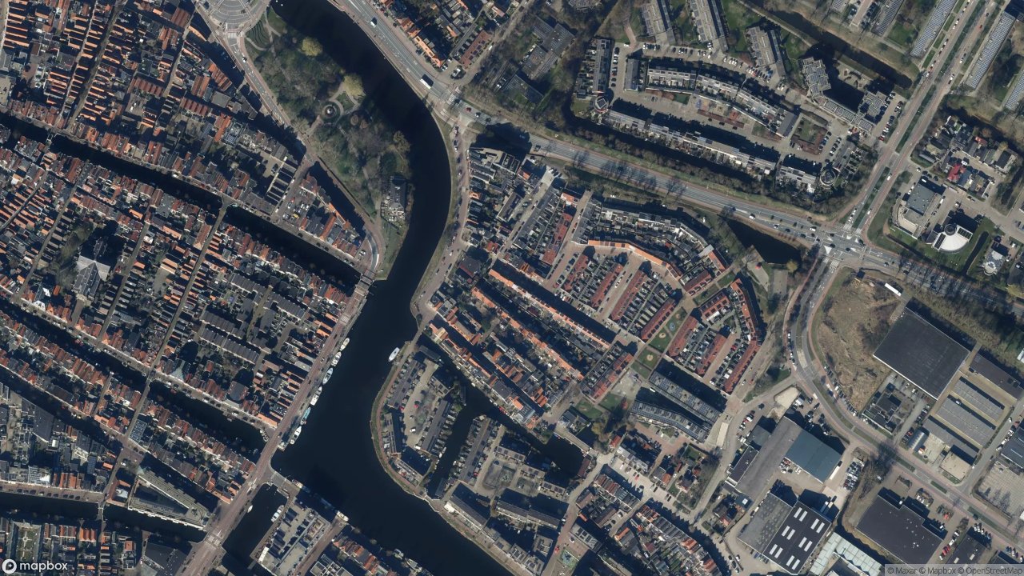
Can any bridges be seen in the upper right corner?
No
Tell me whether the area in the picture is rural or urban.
urban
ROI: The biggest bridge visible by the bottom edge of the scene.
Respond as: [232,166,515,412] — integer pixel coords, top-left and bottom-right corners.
[200,513,235,554]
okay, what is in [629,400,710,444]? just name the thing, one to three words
building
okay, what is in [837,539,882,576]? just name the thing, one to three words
greenhouse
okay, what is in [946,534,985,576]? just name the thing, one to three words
building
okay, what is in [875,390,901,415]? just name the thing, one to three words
house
